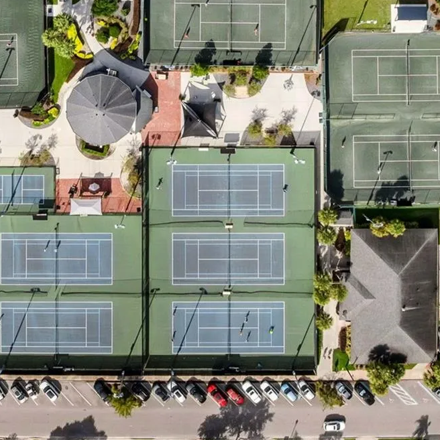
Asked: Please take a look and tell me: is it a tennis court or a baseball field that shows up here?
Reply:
tennis court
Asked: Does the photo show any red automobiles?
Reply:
Yes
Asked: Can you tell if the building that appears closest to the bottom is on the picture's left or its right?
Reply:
right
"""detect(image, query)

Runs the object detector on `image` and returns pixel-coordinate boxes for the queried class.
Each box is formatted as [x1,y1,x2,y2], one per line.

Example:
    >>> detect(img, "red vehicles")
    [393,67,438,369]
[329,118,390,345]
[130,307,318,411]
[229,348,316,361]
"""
[226,386,244,405]
[206,383,226,405]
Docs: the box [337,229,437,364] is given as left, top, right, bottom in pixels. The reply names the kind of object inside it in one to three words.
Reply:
building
